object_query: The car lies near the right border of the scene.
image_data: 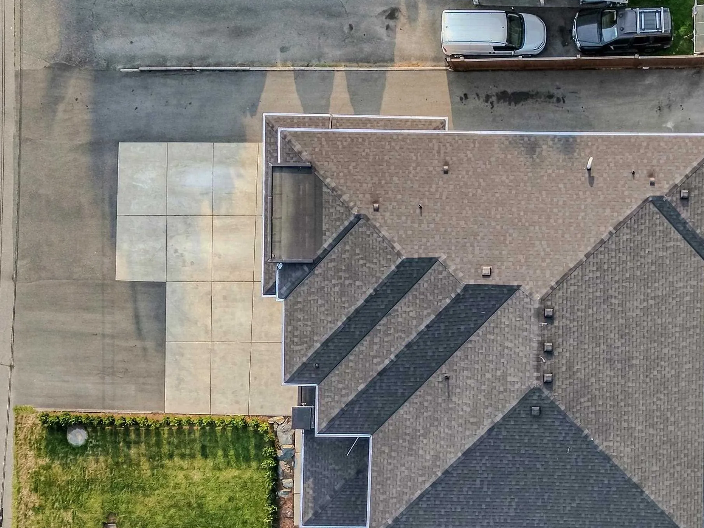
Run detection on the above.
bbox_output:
[573,1,675,52]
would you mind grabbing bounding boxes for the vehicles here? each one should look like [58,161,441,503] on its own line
[440,10,546,56]
[573,1,675,52]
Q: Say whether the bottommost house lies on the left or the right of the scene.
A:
right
